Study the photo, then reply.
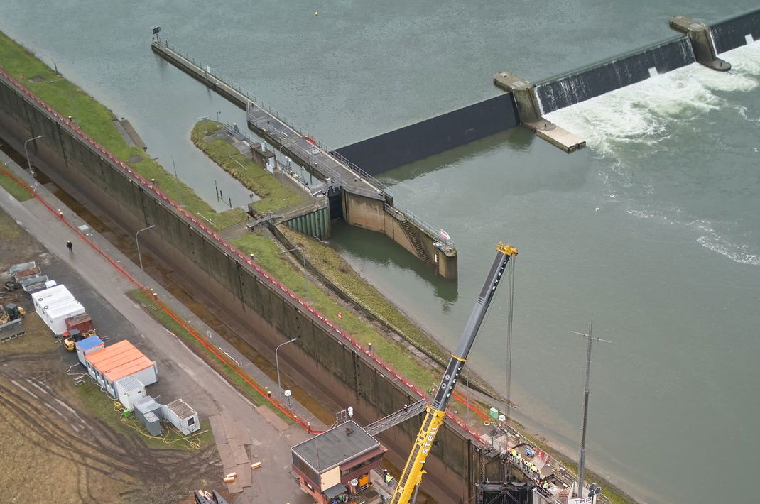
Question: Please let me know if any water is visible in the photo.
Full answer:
Yes, water can be seen from above here.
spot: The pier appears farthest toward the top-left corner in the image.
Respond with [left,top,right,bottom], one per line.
[113,117,152,153]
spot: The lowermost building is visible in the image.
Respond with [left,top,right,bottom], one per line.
[292,420,393,504]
